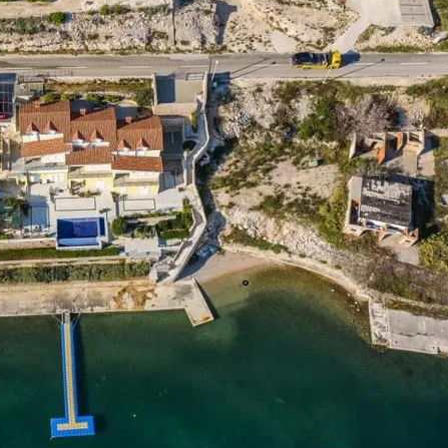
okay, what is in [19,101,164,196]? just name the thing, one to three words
house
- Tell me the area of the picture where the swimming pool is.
left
